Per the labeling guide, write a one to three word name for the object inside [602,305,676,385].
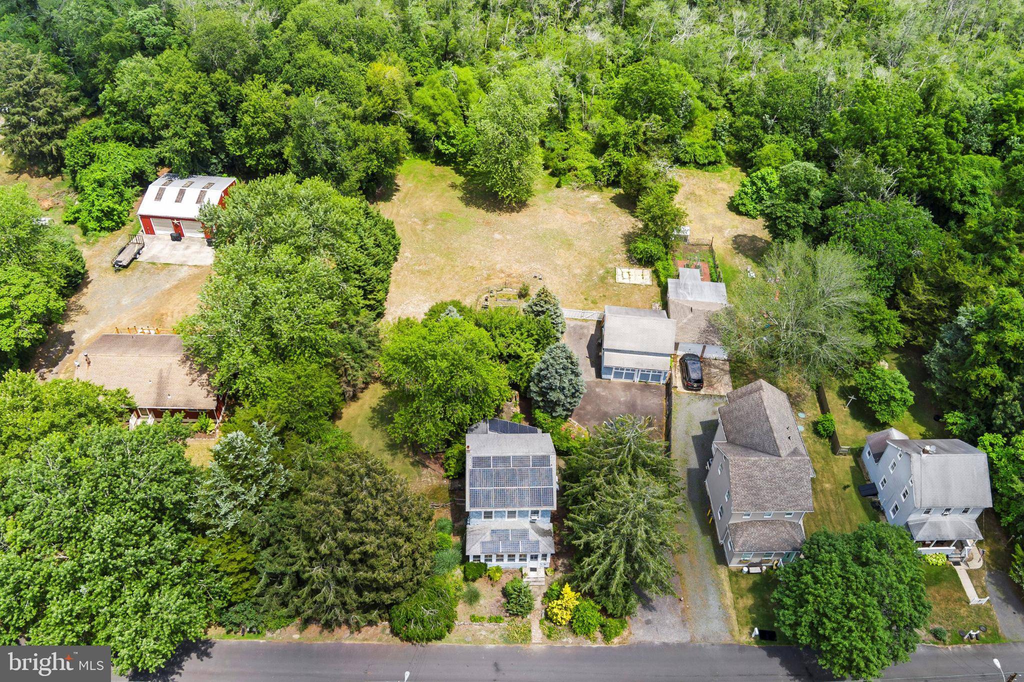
building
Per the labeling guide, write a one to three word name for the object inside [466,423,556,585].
house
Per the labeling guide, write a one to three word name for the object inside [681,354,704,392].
car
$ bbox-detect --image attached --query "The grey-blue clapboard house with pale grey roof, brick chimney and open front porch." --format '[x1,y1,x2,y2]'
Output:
[861,426,994,567]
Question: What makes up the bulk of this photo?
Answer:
trees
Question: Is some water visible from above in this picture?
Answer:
No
